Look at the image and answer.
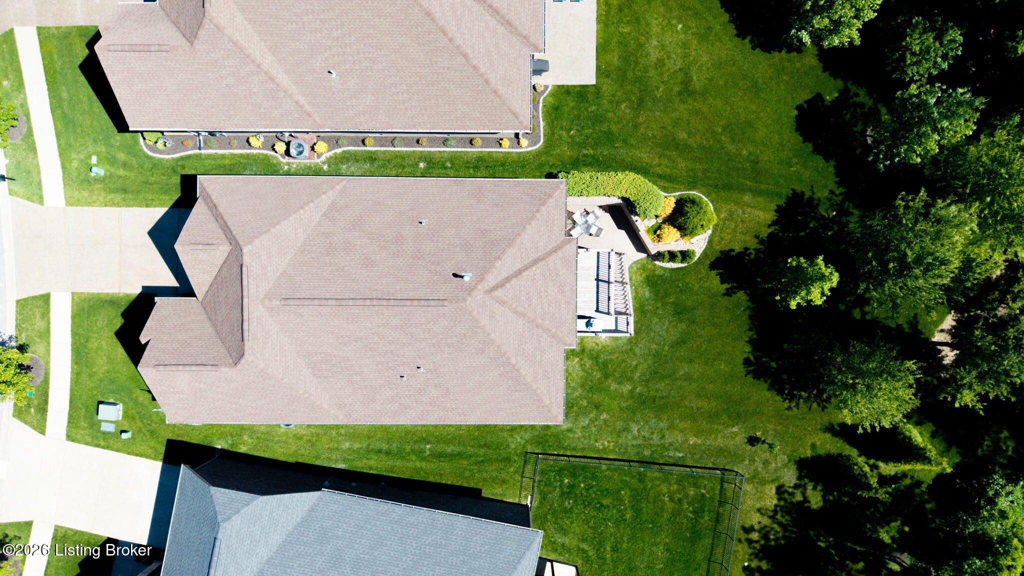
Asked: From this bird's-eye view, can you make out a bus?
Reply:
No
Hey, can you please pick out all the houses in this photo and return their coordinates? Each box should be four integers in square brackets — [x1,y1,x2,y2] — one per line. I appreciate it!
[138,443,543,576]
[99,0,541,136]
[137,176,577,424]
